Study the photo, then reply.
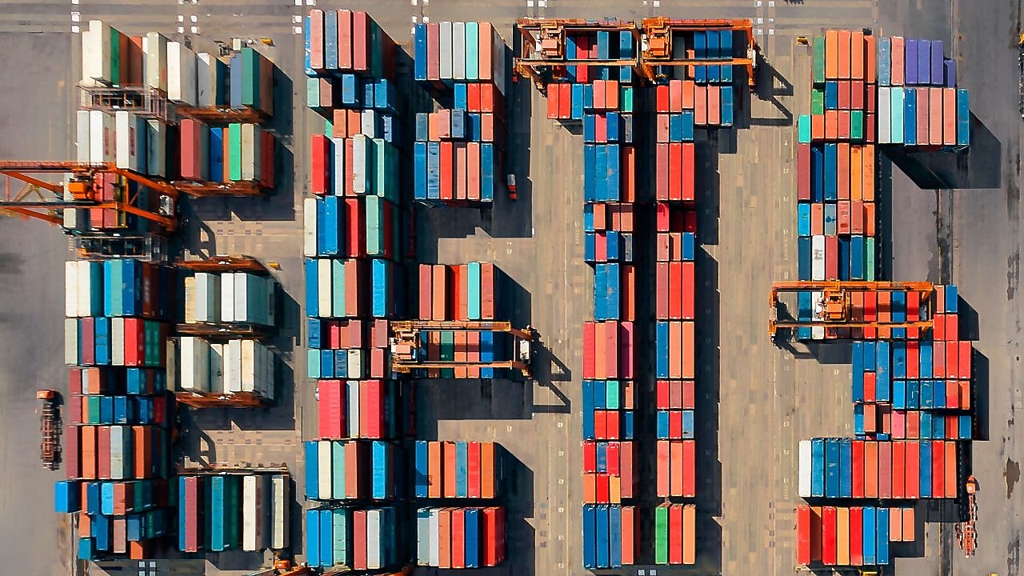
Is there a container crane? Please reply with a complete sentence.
Yes, the image includes a container crane.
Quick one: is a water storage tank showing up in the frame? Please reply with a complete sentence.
No, there appears to be no water storage tank in this shot.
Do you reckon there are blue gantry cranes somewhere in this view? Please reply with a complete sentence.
No, the scene contains no blue gantry crane.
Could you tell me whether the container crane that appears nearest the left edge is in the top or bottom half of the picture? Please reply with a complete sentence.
The container crane that appears nearest the left edge is in the top half of the image.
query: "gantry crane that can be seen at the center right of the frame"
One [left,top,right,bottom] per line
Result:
[769,278,934,346]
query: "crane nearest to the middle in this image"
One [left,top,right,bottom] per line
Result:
[388,318,535,382]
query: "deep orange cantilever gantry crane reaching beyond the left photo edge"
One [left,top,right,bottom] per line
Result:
[0,158,175,238]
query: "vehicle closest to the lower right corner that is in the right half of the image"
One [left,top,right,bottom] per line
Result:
[963,477,978,555]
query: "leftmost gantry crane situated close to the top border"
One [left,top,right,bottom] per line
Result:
[515,15,647,106]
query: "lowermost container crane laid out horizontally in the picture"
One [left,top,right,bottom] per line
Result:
[260,553,432,576]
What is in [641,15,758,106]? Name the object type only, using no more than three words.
container crane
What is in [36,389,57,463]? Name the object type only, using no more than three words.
truck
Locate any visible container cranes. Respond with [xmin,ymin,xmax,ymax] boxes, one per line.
[641,15,758,106]
[260,553,432,576]
[388,318,535,382]
[769,278,934,346]
[0,158,175,238]
[515,15,647,106]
